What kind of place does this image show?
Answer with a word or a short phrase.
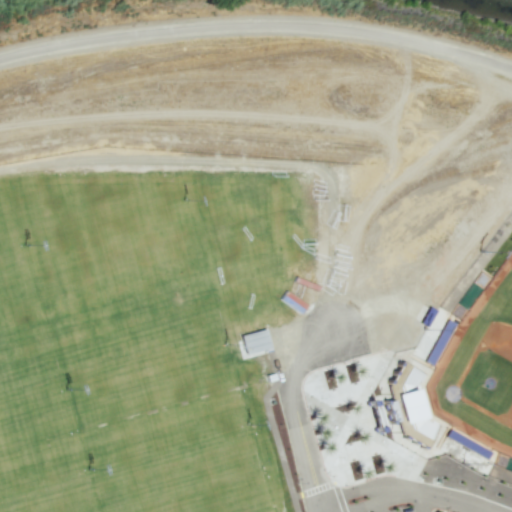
sports ground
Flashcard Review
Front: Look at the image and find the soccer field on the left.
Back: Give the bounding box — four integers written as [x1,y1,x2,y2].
[0,168,320,512]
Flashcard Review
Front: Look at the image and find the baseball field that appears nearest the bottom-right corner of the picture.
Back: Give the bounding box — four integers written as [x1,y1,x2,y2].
[426,256,512,460]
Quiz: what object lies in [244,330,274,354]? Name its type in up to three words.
shed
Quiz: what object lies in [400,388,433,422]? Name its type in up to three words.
building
